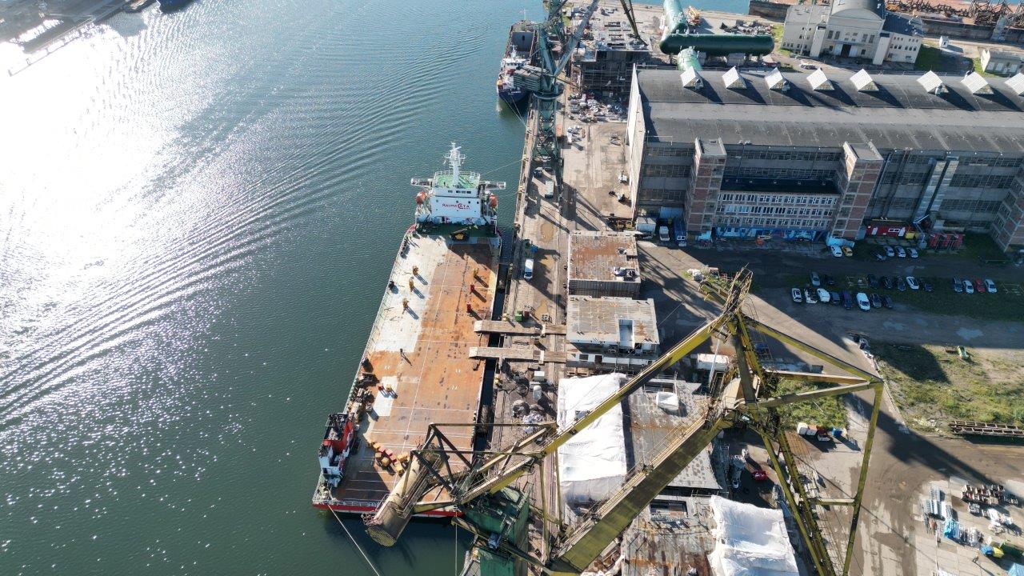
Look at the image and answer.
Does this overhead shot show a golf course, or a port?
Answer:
port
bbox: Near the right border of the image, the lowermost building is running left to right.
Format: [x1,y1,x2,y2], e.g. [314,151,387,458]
[624,65,1024,250]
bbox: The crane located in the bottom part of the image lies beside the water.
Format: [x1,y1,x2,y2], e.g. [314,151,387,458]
[358,250,887,576]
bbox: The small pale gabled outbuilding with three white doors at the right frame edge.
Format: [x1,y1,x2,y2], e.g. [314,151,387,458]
[977,44,1024,76]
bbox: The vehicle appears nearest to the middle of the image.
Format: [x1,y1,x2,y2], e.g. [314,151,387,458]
[522,258,536,283]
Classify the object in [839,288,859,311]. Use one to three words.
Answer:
vehicle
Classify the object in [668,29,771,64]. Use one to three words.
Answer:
storage tank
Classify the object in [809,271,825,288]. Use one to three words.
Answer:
car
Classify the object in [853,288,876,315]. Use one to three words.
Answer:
vehicle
